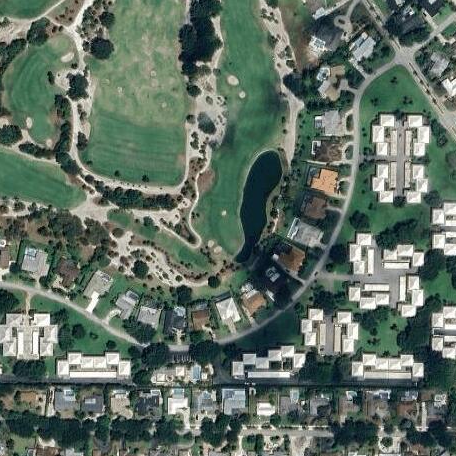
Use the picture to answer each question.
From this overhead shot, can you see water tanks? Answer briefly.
No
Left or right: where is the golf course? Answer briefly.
left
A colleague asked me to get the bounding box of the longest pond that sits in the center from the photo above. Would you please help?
[237,150,281,263]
